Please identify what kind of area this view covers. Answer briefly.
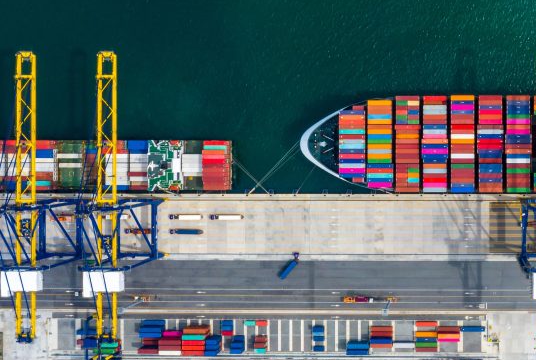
port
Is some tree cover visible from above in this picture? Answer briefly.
No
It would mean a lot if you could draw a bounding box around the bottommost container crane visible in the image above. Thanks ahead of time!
[84,313,128,360]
